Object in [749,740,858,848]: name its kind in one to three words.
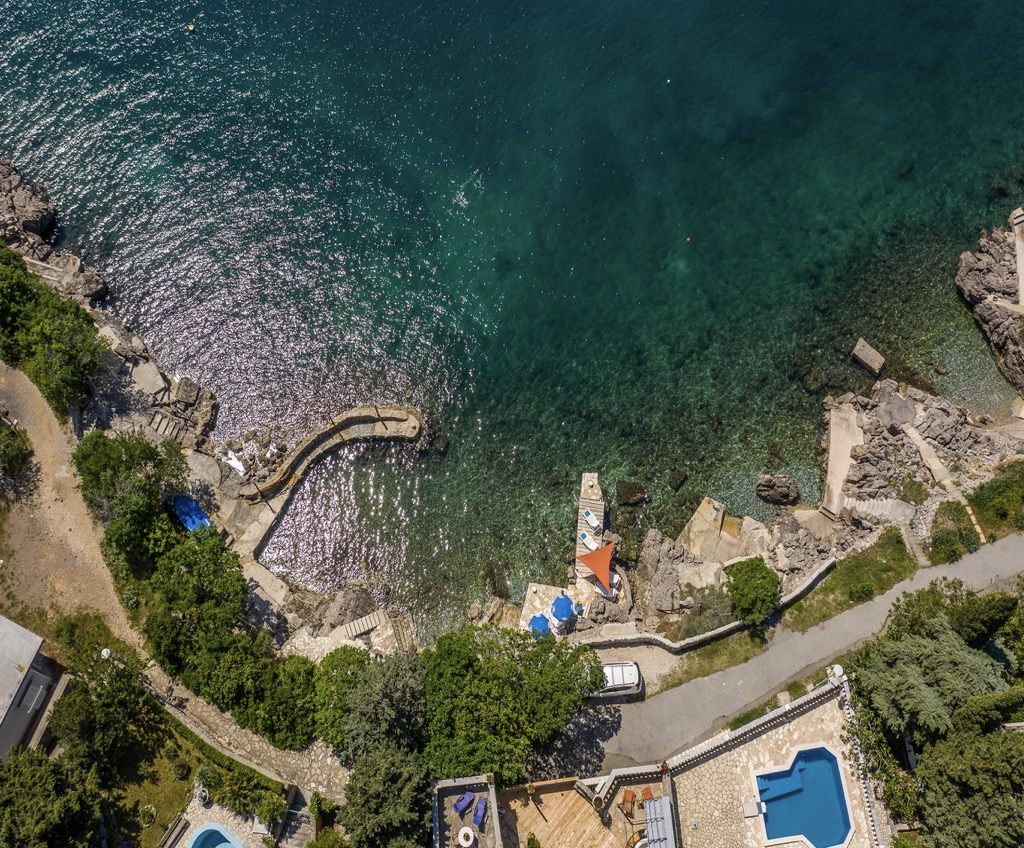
swimming pool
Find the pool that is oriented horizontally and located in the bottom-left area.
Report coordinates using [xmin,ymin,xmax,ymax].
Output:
[185,822,246,848]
